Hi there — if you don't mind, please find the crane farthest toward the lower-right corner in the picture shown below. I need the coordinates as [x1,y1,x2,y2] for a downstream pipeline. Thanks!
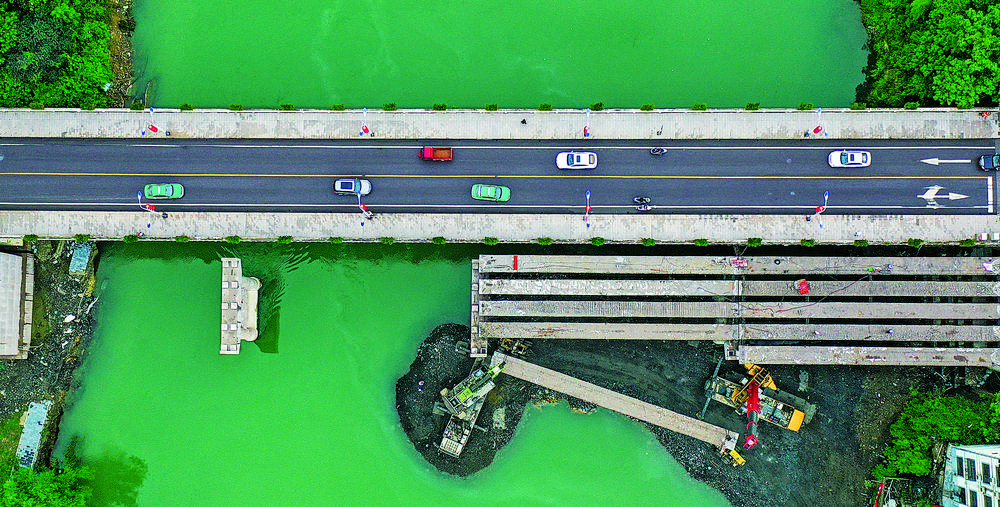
[702,357,808,452]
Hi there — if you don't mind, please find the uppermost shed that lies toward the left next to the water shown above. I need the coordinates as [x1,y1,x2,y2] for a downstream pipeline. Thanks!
[67,246,99,276]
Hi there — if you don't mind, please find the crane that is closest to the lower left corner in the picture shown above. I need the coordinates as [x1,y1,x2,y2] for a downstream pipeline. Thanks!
[432,357,508,461]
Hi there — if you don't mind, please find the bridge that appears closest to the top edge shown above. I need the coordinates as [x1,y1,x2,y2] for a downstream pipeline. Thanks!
[0,106,1000,246]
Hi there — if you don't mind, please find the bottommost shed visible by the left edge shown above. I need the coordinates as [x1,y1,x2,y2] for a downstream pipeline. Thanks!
[10,402,48,469]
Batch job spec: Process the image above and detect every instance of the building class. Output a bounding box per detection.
[941,444,1000,507]
[67,246,99,276]
[0,252,39,362]
[10,402,48,469]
